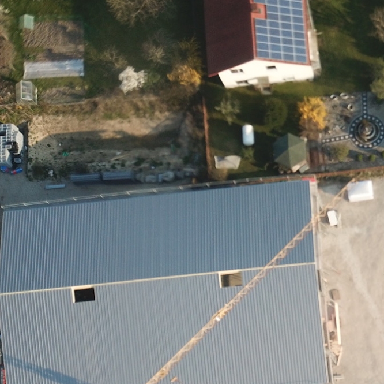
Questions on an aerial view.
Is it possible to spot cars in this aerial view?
No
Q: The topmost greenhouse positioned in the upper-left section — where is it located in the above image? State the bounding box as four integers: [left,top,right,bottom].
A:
[21,59,84,78]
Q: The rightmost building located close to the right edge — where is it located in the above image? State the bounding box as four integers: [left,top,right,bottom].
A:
[349,182,374,205]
